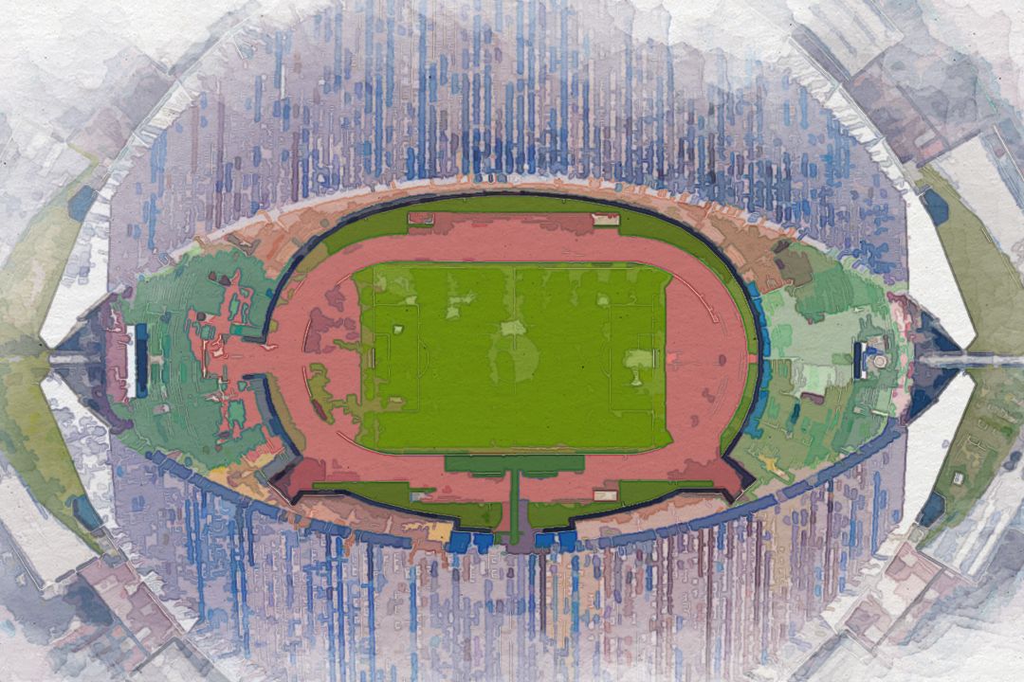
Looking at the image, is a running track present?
Yes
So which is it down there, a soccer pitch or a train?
soccer pitch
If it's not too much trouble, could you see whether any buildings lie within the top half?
Yes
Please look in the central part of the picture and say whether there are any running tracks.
Yes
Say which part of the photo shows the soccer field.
center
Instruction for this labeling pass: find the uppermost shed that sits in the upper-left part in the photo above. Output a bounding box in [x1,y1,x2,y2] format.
[168,1,266,79]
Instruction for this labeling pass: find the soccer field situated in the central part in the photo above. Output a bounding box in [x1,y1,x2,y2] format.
[351,260,675,454]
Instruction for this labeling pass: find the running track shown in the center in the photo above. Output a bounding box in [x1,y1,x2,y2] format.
[262,203,757,543]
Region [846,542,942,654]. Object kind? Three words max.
building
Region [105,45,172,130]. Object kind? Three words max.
building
